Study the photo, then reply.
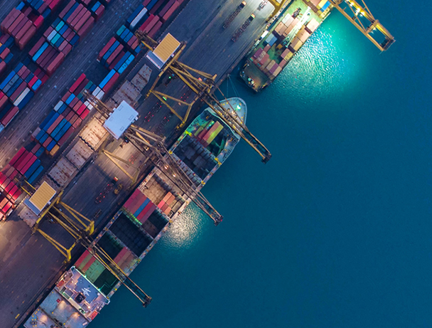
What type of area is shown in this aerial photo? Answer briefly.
port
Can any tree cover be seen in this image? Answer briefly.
No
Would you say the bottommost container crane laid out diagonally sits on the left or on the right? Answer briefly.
left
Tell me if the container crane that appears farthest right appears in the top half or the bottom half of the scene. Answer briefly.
top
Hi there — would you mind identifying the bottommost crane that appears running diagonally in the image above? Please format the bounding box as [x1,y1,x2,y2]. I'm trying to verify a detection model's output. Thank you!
[10,168,155,310]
